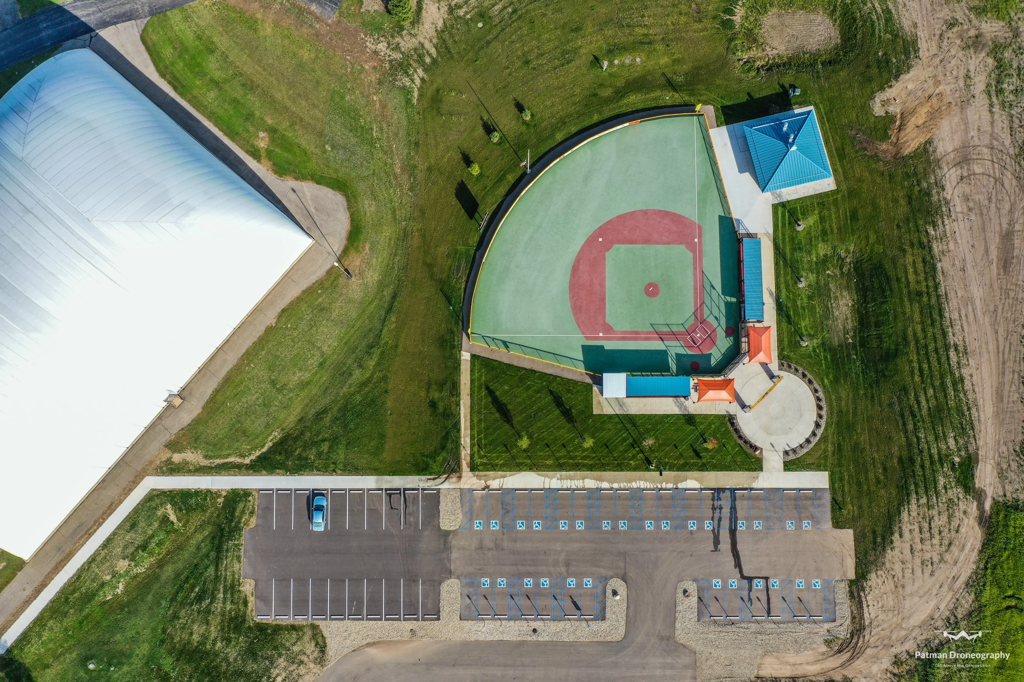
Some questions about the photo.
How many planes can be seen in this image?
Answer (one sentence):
There are no planes in this view.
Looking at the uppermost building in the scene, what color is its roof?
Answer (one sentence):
The roof over the uppermost building appears blue.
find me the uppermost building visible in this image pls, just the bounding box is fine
[743,109,832,193]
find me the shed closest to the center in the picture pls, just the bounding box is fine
[602,373,627,398]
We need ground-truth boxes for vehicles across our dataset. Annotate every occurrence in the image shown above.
[312,497,327,530]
